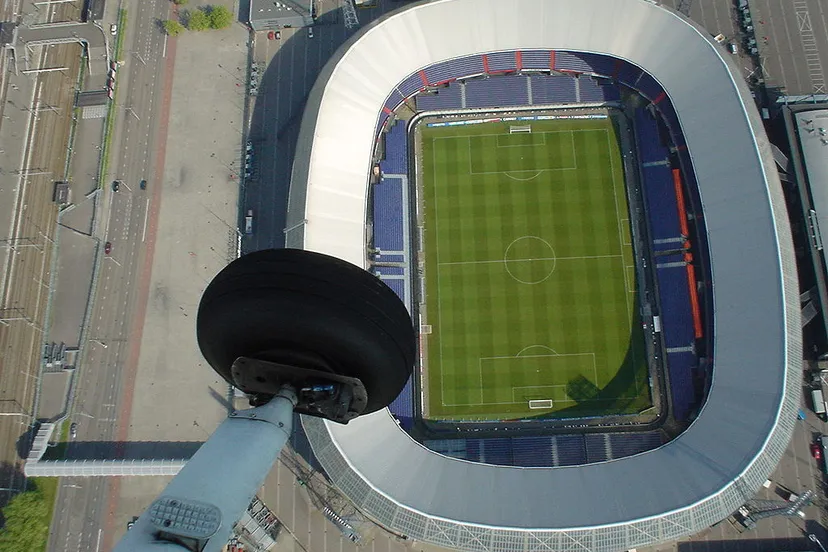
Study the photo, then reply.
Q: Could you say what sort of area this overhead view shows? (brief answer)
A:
sports ground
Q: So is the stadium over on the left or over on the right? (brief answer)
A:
right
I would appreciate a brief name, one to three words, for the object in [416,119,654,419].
soccer field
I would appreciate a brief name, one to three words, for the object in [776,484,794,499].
vehicle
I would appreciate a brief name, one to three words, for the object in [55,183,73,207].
shed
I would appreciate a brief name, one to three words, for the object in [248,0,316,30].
building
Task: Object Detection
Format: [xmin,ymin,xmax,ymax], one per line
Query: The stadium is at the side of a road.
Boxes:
[285,0,805,552]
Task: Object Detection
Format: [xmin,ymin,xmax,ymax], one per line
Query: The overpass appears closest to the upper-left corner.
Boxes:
[12,19,109,91]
